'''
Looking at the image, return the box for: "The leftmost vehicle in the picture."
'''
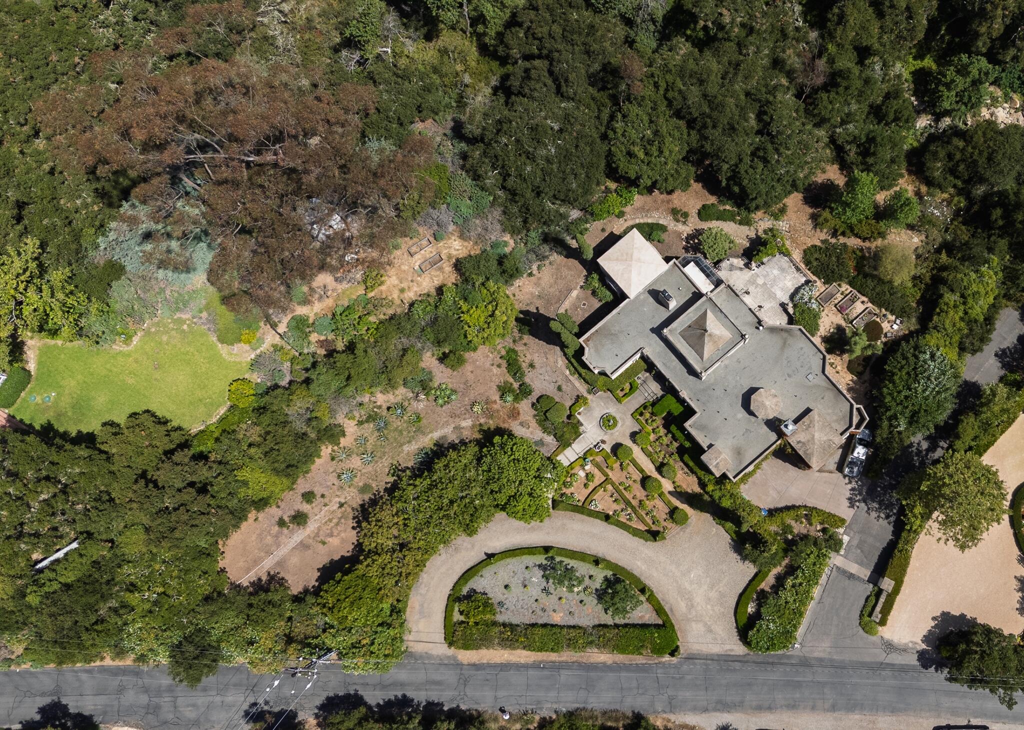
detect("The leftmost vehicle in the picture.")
[844,428,874,479]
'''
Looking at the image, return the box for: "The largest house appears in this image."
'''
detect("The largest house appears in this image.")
[579,227,869,483]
